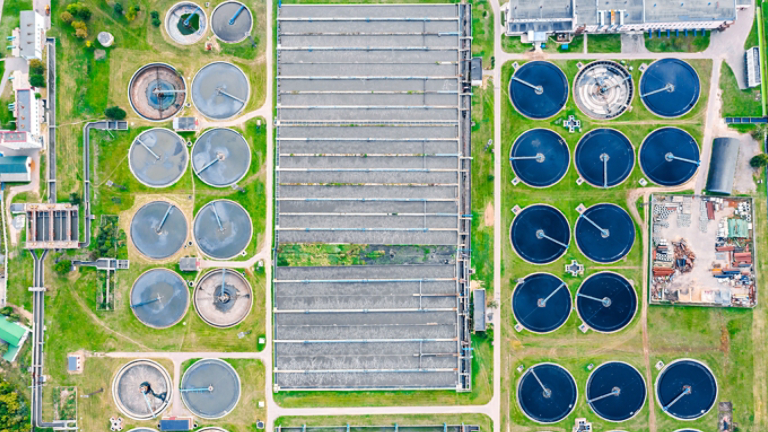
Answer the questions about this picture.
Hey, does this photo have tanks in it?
Yes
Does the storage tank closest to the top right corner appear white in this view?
No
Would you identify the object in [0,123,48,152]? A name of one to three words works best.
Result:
building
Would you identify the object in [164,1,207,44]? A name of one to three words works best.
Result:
storage tank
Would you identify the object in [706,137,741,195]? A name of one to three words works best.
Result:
hangar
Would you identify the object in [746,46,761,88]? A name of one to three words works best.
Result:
shed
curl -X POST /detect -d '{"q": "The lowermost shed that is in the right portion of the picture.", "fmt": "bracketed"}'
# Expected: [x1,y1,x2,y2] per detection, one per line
[472,288,485,331]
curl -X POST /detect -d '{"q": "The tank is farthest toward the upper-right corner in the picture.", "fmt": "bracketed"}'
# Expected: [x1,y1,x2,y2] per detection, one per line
[639,57,700,118]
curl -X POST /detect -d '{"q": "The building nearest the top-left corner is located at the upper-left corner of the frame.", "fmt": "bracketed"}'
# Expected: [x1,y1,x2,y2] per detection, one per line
[4,10,46,61]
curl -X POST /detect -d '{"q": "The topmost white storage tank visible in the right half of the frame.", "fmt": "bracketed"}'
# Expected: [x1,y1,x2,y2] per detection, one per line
[573,59,634,121]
